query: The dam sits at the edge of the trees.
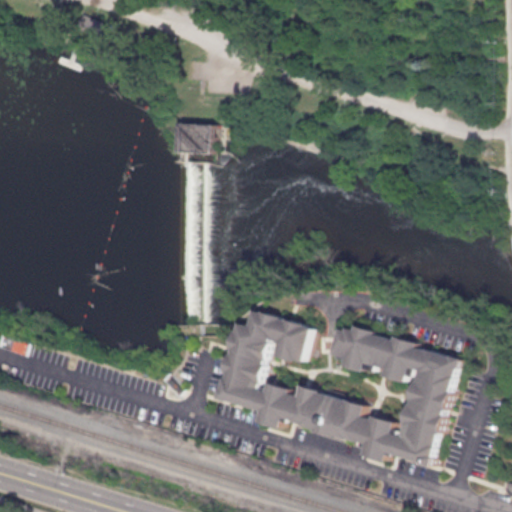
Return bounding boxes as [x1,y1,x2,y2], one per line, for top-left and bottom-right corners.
[176,154,244,338]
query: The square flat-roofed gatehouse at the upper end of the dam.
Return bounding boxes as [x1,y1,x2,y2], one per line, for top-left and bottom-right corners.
[175,124,214,154]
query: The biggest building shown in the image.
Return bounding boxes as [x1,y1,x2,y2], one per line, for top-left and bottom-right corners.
[210,310,463,467]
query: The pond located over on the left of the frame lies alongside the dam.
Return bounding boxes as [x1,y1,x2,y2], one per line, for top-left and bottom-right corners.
[0,48,184,350]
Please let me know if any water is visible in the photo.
Yes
